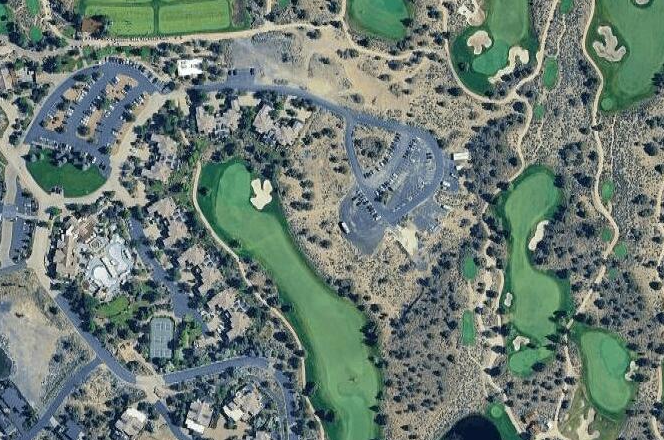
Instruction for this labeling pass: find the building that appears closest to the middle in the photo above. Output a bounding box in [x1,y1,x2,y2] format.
[272,119,304,147]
